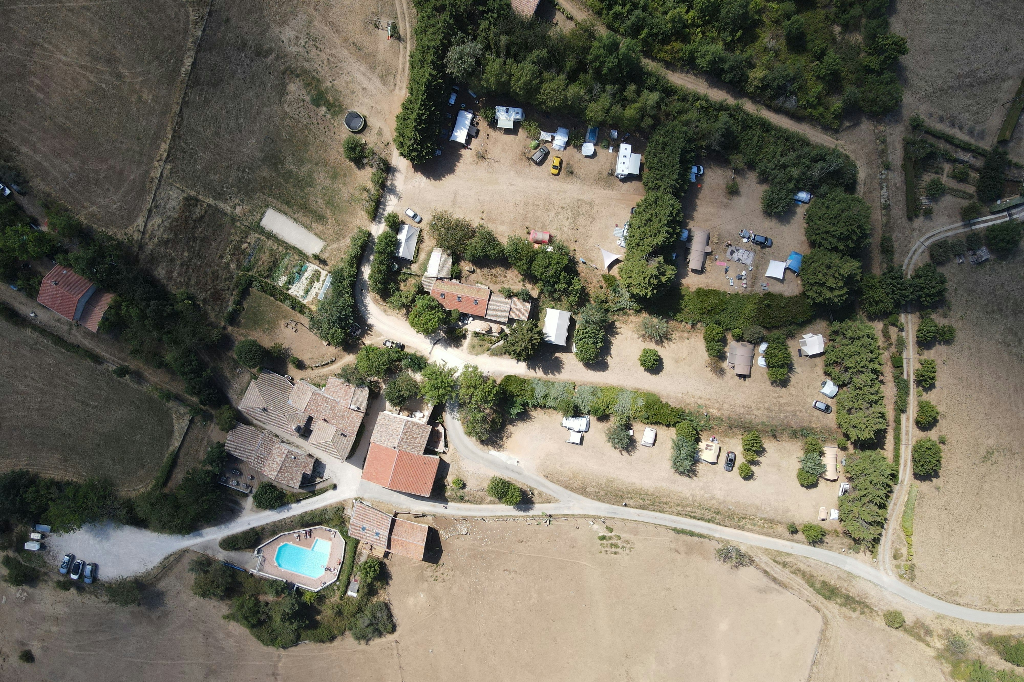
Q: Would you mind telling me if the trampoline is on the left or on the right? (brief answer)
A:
left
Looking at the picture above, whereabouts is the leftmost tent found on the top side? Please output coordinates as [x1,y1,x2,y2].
[396,224,420,261]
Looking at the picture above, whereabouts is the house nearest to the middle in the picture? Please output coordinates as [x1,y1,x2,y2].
[421,248,531,322]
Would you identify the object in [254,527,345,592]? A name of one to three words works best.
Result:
swimming pool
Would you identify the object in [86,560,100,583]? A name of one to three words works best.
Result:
car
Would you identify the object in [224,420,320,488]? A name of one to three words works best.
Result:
house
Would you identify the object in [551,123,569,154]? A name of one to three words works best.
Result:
tent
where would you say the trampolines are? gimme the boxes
[342,108,365,131]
